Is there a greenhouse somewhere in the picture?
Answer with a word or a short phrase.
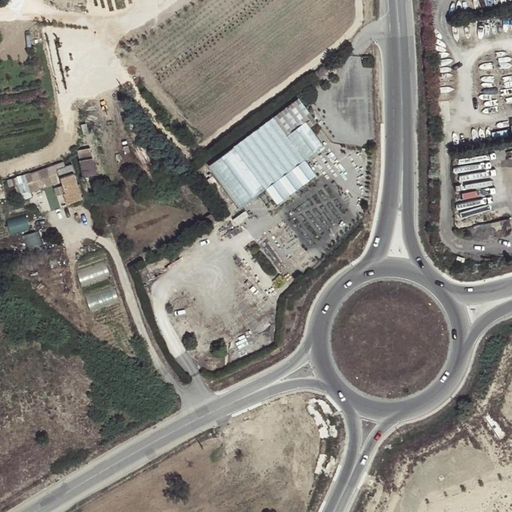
Yes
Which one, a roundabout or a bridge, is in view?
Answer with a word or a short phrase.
roundabout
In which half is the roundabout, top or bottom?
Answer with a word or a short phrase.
bottom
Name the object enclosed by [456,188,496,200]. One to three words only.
vehicle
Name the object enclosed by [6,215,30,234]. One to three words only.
shed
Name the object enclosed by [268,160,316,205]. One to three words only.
greenhouse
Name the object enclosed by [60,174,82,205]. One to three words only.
house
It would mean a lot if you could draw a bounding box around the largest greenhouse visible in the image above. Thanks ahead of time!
[208,118,304,208]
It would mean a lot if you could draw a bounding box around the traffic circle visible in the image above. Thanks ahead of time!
[308,257,473,422]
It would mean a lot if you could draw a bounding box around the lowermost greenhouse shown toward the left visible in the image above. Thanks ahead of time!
[86,285,118,310]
